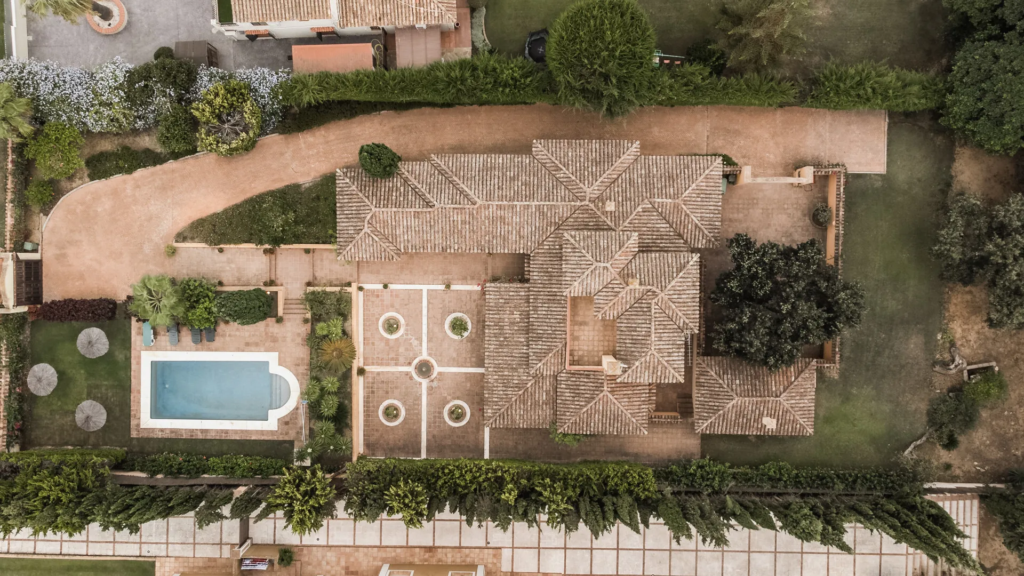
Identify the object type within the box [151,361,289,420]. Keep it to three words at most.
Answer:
swimming pool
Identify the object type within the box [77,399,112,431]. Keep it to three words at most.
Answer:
umbrella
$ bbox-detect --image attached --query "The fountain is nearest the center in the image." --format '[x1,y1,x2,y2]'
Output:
[411,356,438,383]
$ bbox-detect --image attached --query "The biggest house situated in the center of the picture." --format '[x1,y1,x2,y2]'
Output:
[335,138,724,435]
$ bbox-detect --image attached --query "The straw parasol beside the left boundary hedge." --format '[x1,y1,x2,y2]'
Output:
[29,363,66,394]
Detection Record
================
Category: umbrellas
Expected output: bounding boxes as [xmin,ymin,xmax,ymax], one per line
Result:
[29,363,66,394]
[77,399,112,431]
[78,325,114,359]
